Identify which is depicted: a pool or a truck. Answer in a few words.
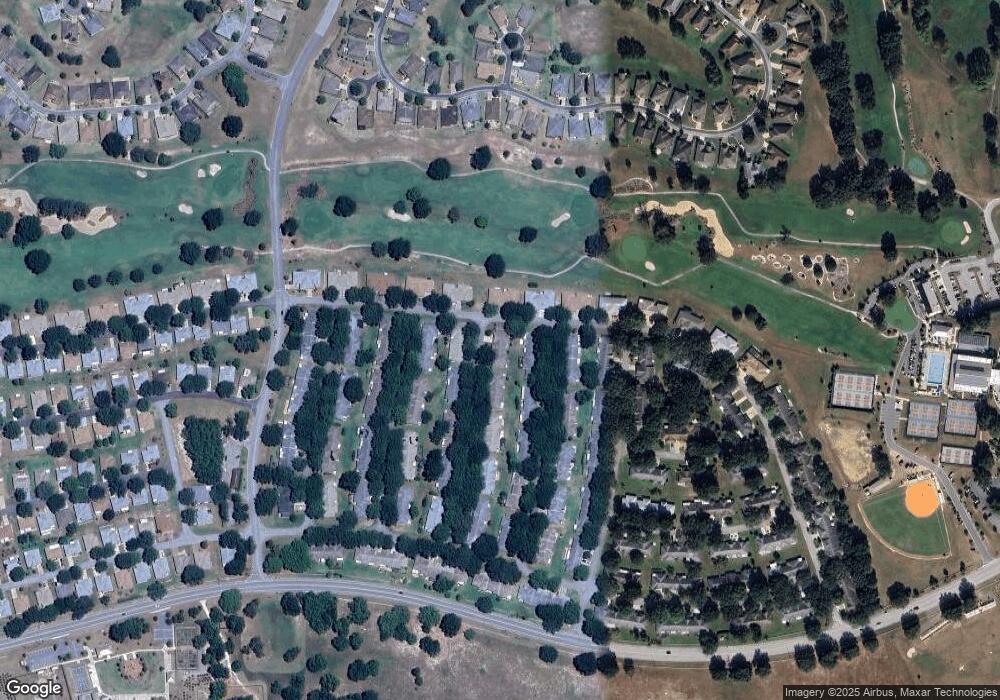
pool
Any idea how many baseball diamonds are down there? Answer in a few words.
1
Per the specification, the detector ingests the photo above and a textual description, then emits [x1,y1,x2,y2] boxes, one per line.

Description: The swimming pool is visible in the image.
[921,347,951,391]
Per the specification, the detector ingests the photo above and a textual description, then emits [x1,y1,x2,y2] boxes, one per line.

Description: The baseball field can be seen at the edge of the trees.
[857,472,952,559]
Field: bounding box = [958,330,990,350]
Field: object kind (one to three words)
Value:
building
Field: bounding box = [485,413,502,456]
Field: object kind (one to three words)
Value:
house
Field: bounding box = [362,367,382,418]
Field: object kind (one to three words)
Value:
house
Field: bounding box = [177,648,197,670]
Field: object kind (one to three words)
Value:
tennis court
